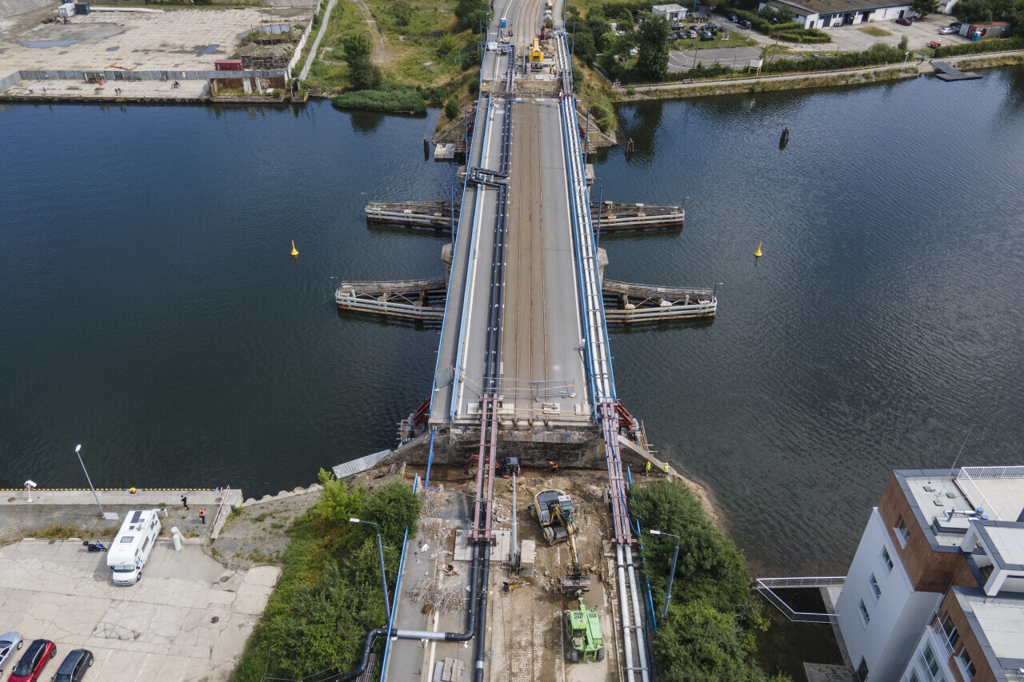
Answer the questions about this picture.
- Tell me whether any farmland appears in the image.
No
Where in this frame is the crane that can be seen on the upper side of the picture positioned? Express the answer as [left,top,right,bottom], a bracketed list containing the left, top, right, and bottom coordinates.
[521,36,553,70]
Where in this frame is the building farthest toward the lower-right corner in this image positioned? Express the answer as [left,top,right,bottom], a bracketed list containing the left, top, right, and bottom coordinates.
[835,442,1024,682]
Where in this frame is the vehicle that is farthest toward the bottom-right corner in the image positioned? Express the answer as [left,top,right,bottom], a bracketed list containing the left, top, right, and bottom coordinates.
[556,587,605,663]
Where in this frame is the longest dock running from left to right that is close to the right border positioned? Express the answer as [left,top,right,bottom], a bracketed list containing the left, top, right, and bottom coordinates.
[933,61,982,83]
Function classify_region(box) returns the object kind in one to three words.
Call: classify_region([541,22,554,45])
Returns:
vehicle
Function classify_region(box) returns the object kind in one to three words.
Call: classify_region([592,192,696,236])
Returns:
pier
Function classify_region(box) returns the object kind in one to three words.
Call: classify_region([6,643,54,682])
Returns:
car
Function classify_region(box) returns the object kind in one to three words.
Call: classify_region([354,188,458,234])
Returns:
pier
